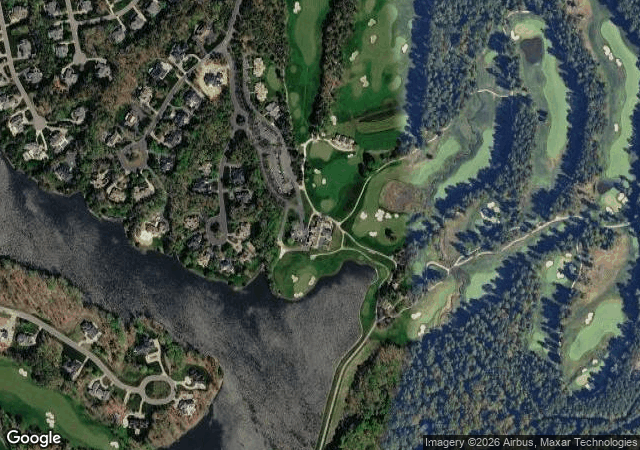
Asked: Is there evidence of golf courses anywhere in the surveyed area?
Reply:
Yes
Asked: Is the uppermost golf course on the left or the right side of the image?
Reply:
right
